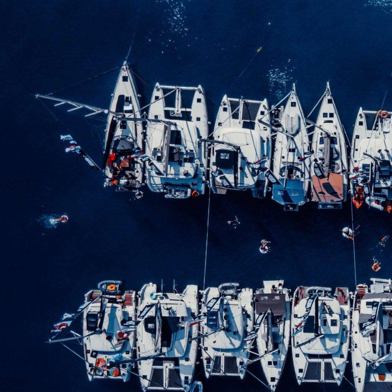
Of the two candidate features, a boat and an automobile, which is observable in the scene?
boat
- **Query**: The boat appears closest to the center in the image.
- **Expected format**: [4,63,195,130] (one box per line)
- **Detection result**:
[164,185,191,198]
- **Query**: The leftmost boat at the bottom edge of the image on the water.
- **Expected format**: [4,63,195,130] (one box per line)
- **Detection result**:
[48,291,140,382]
